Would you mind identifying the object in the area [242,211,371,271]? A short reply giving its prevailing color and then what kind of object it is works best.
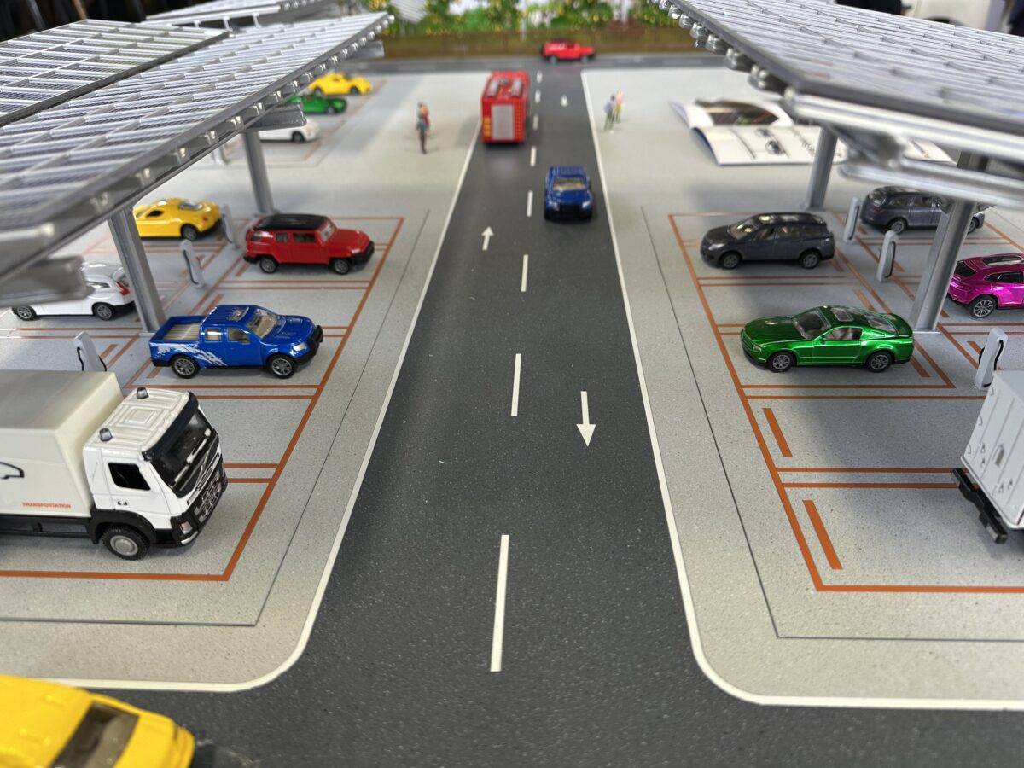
red car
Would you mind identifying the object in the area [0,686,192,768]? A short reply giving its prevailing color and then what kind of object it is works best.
yellow car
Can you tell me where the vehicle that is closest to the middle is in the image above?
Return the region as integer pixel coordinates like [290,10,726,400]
[544,167,595,222]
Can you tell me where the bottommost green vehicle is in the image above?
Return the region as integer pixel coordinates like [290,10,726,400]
[736,302,916,370]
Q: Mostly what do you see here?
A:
paved ground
